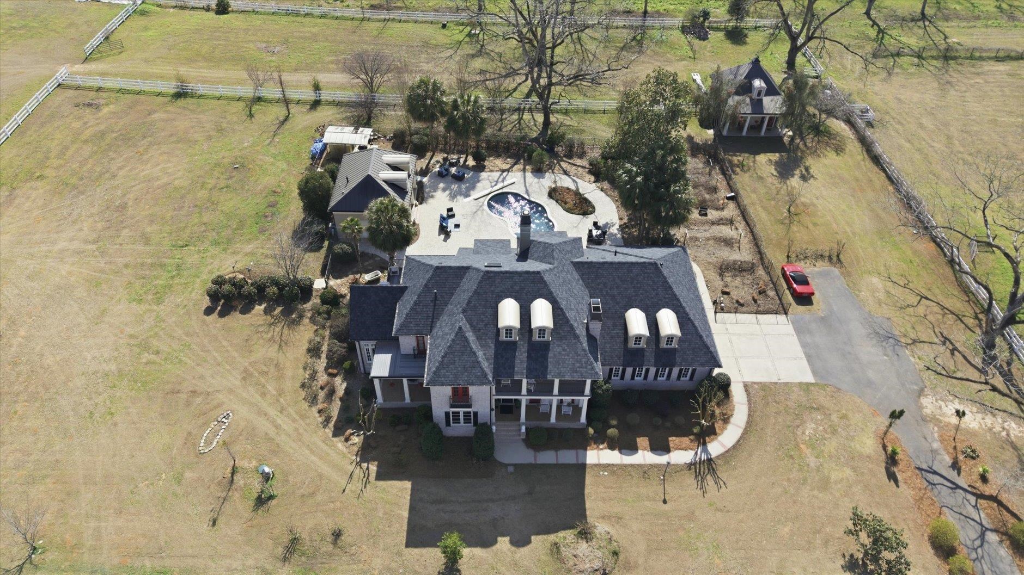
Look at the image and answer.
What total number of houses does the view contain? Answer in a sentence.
The count of houses comes to 2.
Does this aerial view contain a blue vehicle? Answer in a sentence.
No, the photo shows no blue vehicle.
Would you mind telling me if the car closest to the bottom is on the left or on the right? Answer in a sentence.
The car closest to the bottom appears in the right half of the scene.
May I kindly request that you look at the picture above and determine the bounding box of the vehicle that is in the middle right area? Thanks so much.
[783,266,815,298]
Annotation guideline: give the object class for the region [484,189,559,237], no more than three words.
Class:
swimming pool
